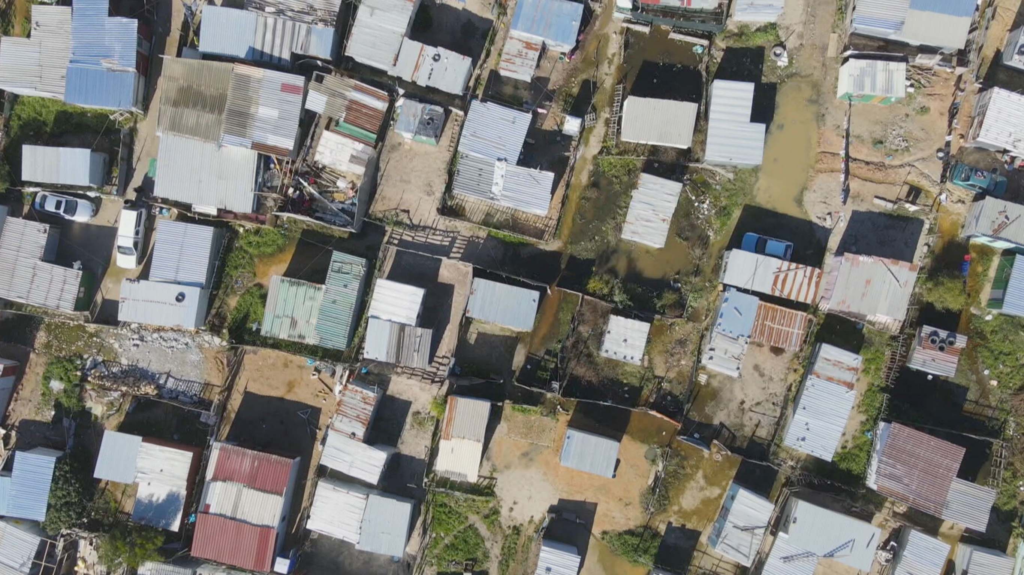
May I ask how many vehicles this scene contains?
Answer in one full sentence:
I count 4 vehicles.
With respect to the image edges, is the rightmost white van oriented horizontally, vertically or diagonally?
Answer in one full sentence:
I'd say the rightmost white van is aligned vertically in the picture.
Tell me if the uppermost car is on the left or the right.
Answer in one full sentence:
It is on the right.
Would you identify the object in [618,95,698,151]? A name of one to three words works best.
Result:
shed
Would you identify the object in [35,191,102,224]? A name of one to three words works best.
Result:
car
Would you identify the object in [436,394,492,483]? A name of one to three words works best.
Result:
shed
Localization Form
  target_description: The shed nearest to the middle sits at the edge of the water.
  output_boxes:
[466,278,540,331]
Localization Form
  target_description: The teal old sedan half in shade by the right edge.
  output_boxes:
[943,161,1008,197]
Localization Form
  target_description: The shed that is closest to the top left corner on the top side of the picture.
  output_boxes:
[0,5,72,101]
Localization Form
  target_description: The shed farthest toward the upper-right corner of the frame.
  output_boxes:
[986,19,1024,86]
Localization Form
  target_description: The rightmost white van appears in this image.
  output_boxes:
[115,207,150,271]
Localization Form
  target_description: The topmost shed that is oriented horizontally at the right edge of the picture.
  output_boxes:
[840,0,977,57]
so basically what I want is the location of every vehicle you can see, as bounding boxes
[736,234,794,262]
[35,191,102,224]
[943,161,1008,197]
[115,207,150,271]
